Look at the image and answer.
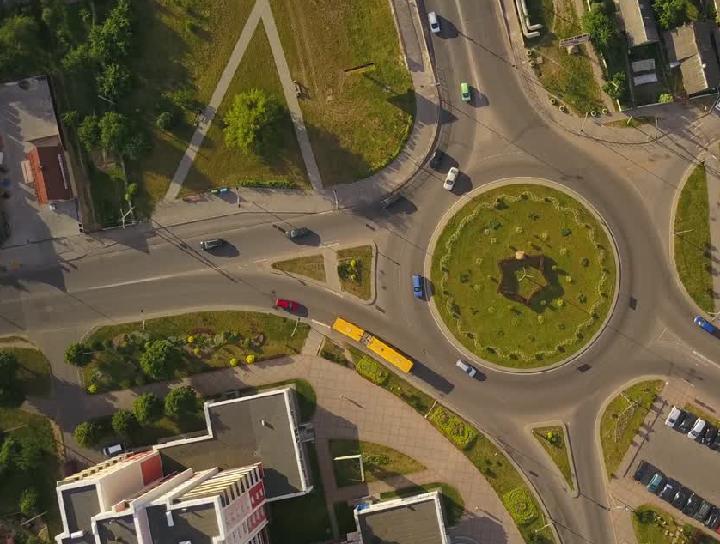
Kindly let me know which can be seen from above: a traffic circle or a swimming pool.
traffic circle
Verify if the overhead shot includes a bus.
Yes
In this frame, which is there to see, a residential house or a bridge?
residential house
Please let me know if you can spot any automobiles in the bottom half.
Yes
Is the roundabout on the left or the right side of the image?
right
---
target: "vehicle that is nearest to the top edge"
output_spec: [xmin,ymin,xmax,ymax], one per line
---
[427,10,441,35]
